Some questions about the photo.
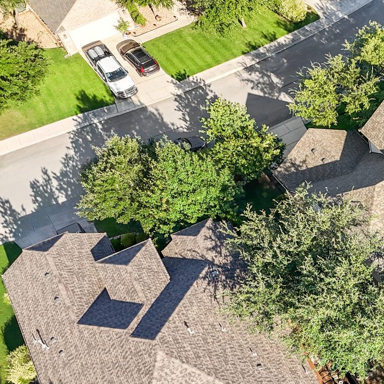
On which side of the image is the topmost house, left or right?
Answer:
left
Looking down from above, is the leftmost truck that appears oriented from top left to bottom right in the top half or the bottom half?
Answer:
top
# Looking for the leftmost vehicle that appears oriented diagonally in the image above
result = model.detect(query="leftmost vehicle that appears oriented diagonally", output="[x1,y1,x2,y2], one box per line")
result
[83,39,132,91]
